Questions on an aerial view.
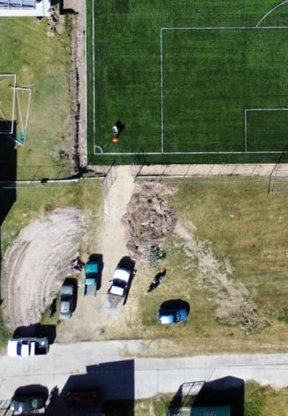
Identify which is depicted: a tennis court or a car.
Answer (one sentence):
Visible in the photo is a car.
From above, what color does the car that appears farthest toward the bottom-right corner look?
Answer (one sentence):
The car that appears farthest toward the bottom-right corner looks blue in the image.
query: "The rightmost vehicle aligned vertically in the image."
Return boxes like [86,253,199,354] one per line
[105,267,129,315]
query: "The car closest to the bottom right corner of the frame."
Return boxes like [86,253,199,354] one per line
[156,304,188,324]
